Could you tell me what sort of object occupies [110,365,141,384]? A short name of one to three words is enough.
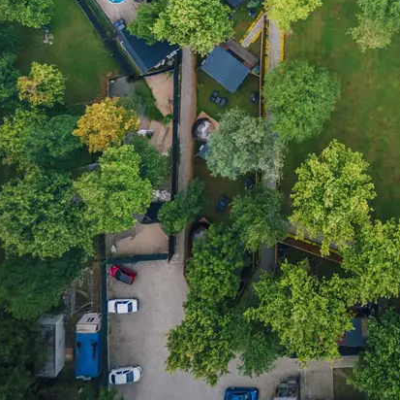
car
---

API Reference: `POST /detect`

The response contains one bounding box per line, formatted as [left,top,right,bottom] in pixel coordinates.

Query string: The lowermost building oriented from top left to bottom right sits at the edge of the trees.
[194,142,231,185]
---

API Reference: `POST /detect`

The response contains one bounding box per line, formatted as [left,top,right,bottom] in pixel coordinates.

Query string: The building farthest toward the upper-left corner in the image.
[119,27,178,74]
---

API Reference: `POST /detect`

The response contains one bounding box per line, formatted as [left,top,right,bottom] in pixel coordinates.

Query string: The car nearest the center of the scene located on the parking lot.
[109,266,137,285]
